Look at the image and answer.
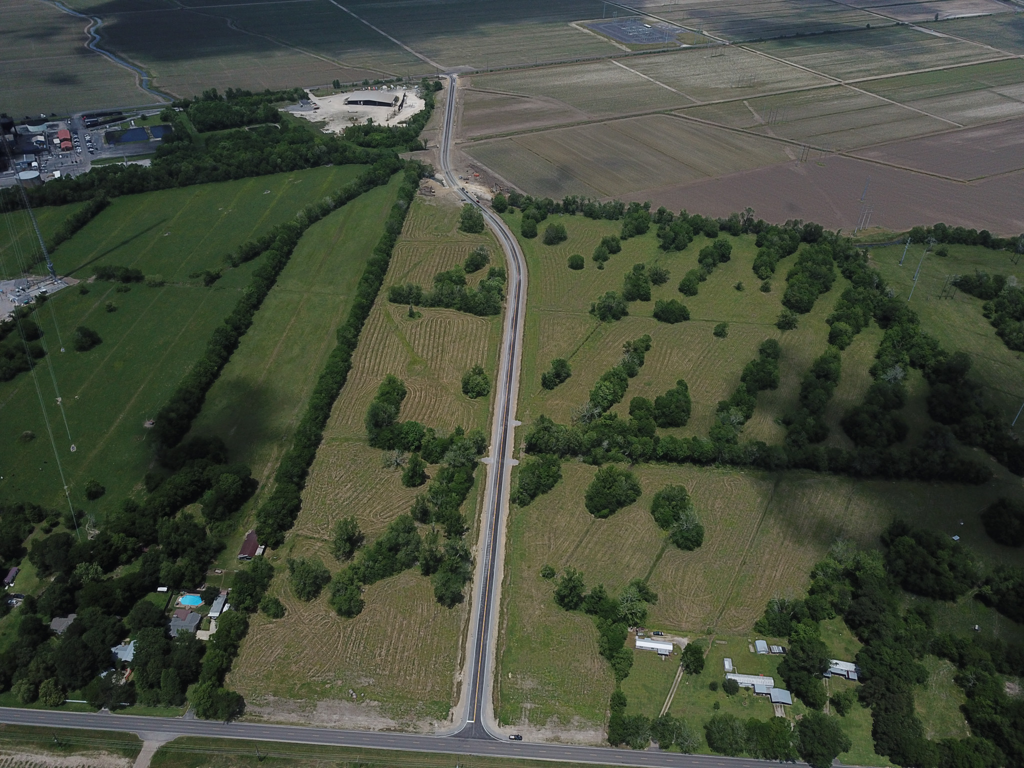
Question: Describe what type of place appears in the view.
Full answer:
The picture captures farmland.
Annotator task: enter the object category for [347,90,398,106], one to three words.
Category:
building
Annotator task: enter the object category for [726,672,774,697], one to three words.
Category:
house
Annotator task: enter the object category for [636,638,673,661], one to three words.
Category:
house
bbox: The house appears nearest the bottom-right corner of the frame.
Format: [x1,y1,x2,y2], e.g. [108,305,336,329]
[828,661,857,682]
